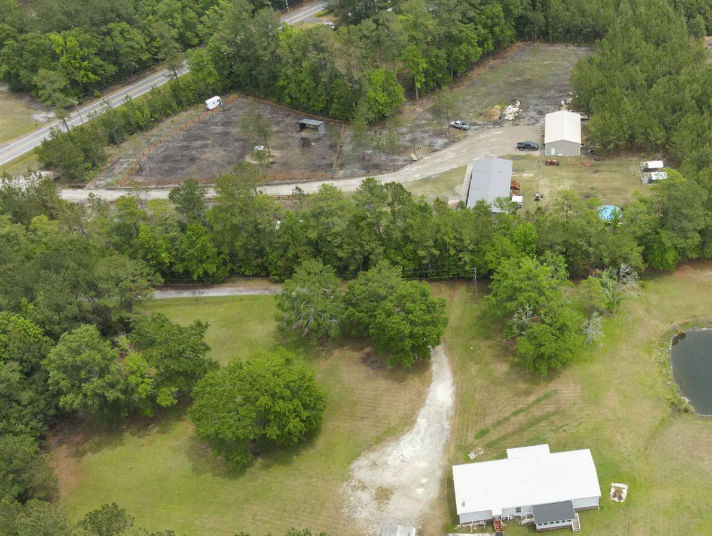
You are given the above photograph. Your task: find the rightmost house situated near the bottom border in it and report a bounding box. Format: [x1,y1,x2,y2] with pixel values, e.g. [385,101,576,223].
[453,444,602,533]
